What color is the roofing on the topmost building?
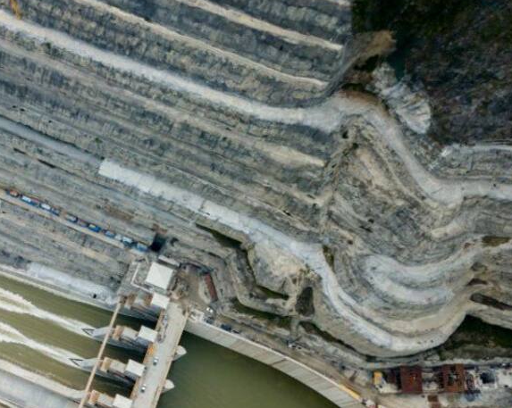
white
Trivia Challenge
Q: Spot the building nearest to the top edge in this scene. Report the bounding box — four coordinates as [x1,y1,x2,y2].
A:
[146,263,174,295]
